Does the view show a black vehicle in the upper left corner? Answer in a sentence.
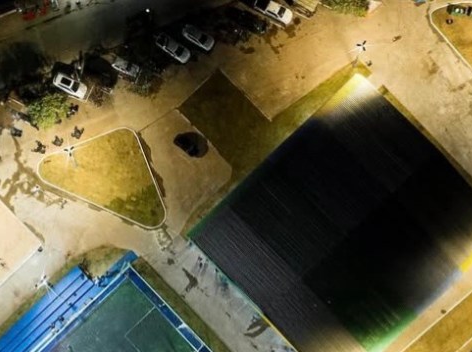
Yes, a black vehicle appears in the upper left corner.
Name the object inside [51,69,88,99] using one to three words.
car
